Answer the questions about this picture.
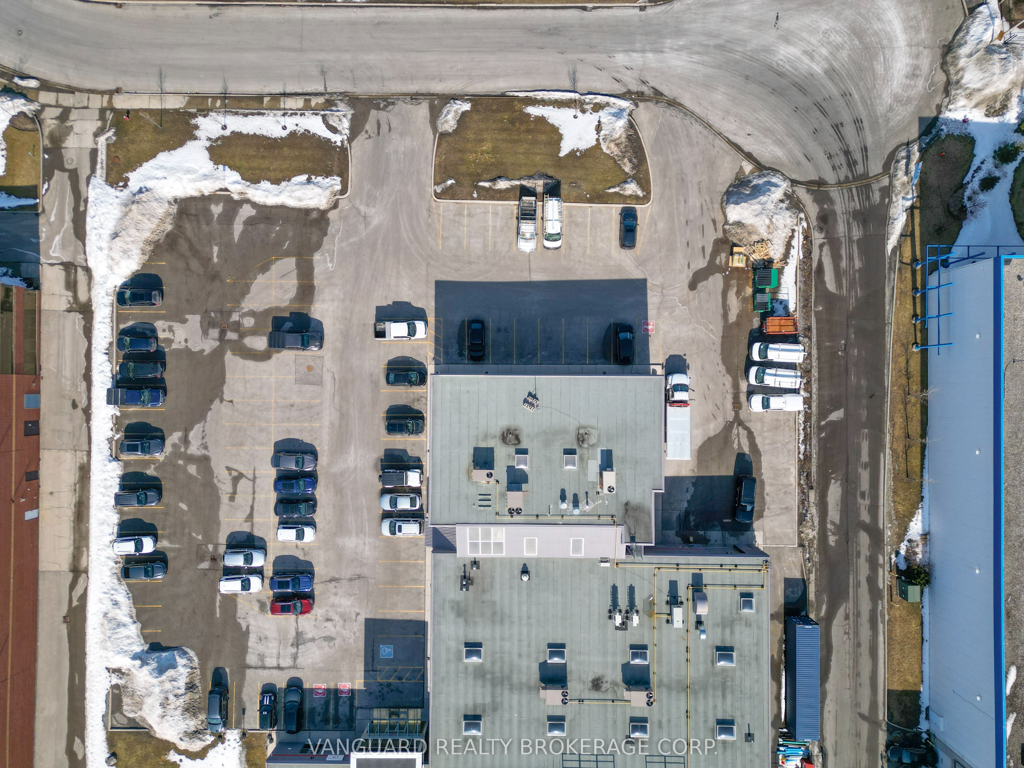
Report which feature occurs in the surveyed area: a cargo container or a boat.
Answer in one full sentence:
It is a cargo container that can be seen here.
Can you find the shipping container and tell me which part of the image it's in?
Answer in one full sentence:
You can find the shipping container in the bottom right area of the picture.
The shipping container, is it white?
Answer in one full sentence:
No, from above the shipping container looks blue.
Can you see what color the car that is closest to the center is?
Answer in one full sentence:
The color of the car that is closest to the center is black.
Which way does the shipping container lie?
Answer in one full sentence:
Seen from above, the shipping container lies vertically.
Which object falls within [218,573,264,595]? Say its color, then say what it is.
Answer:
white car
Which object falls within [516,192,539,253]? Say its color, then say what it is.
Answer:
white truck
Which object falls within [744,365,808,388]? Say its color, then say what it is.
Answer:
white vehicle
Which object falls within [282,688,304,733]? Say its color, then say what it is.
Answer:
black car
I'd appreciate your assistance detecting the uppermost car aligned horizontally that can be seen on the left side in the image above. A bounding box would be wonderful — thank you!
[116,287,162,308]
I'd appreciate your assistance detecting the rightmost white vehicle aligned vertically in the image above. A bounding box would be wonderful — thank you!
[662,366,693,460]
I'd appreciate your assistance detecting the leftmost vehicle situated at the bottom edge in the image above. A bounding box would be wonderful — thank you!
[206,686,231,733]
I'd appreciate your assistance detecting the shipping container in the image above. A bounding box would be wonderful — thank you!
[786,617,820,741]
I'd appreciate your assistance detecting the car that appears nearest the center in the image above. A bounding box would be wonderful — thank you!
[466,320,487,360]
